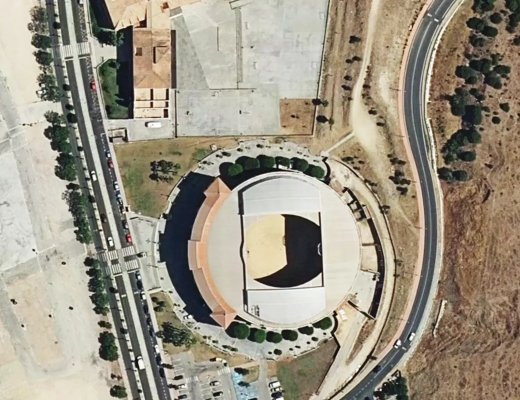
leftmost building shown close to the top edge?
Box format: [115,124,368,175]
[105,0,147,29]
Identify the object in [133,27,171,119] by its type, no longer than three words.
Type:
house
